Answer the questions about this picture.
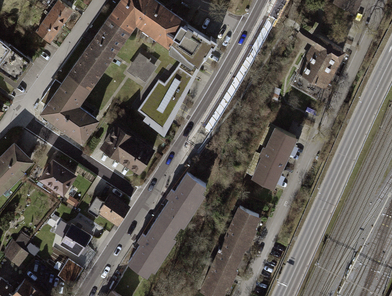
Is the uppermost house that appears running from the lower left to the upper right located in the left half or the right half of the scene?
left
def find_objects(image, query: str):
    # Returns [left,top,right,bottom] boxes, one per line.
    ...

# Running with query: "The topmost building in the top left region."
[36,0,74,44]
